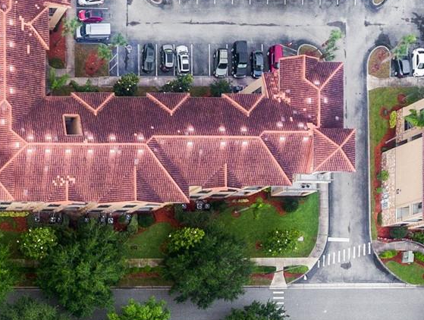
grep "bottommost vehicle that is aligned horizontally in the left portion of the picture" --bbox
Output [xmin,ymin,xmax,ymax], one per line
[76,21,113,39]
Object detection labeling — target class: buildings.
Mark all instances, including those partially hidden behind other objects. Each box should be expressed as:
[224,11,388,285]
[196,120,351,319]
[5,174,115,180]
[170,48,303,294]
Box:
[0,0,355,209]
[384,114,424,224]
